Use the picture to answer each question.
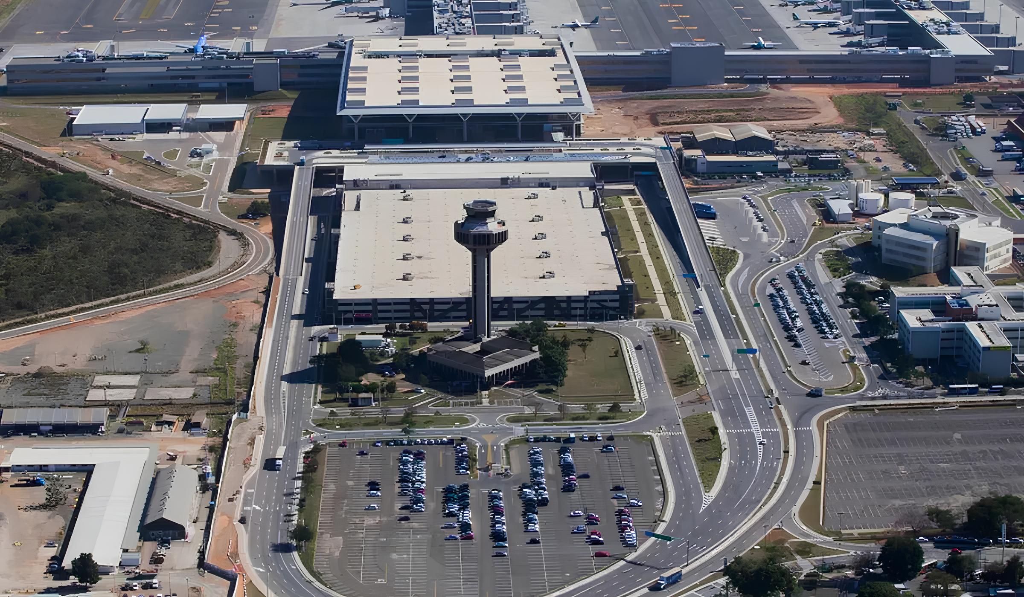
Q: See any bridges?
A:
Yes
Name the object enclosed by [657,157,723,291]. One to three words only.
bridge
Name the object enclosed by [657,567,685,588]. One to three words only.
truck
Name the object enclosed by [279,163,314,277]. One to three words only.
bridge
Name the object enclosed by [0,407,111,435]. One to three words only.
shed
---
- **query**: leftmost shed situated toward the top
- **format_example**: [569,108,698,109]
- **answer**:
[73,105,150,135]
